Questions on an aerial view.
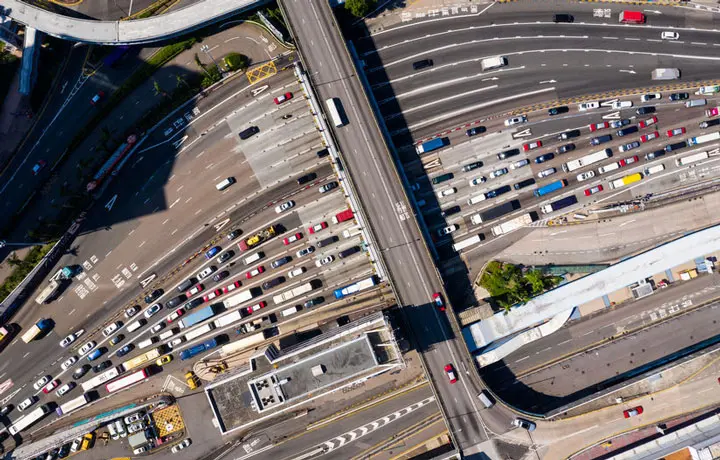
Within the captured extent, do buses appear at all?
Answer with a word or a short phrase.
Yes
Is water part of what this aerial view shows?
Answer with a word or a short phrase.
No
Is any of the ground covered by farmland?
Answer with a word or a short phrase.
No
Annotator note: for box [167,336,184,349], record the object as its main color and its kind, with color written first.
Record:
white vehicle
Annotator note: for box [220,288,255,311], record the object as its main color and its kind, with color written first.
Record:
white truck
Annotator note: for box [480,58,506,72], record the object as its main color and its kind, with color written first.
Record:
white vehicle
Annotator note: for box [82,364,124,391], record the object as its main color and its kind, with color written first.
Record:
white bus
